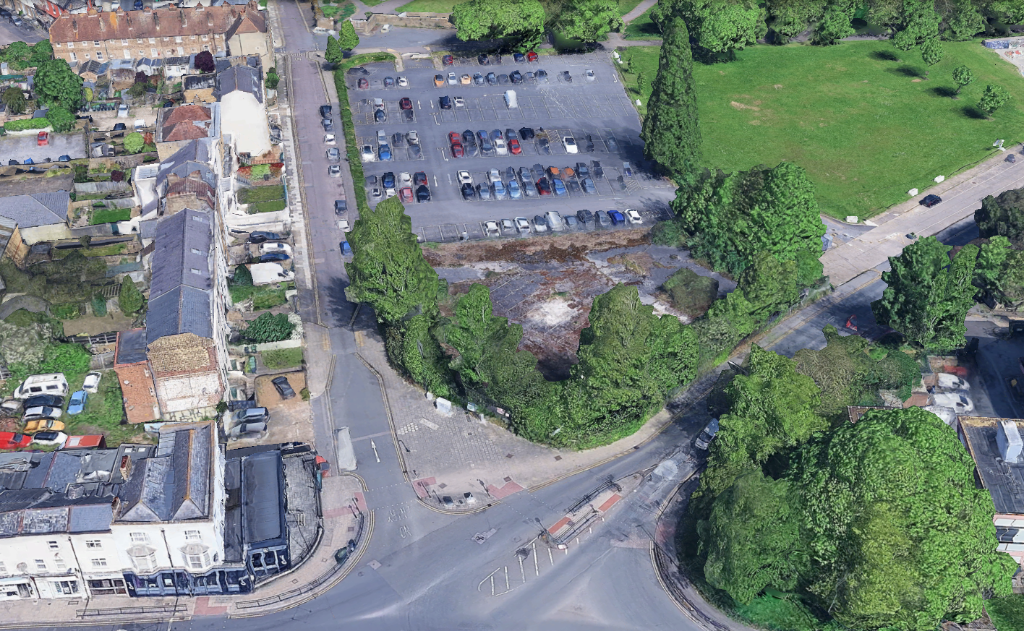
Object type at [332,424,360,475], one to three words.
truck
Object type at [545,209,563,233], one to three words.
vehicle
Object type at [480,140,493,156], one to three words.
vehicle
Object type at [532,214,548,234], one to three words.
car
